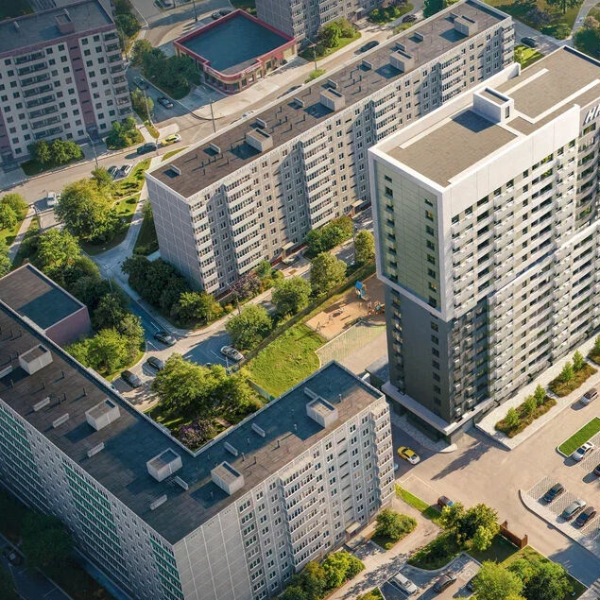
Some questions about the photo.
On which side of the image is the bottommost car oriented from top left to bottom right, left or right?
right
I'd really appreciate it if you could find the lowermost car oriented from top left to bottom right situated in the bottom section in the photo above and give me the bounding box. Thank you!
[391,573,418,596]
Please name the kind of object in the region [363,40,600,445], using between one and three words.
building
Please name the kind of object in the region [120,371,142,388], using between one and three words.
car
